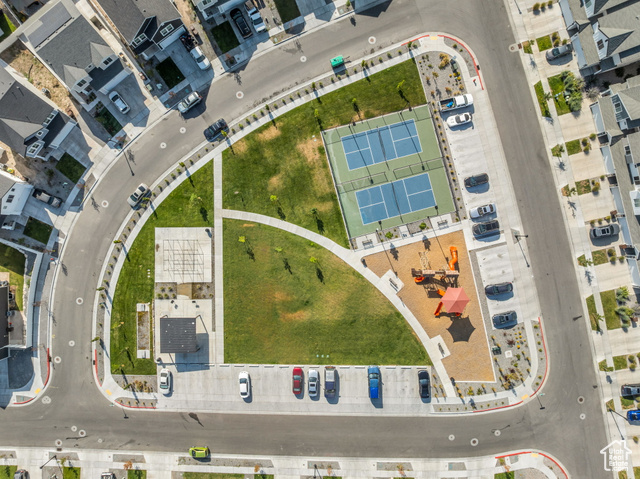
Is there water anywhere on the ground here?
No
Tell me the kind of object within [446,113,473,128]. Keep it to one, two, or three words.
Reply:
car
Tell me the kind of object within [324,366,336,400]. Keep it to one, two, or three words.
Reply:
vehicle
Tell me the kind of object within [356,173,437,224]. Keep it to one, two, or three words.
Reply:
sports court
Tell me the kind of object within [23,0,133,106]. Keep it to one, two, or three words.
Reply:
house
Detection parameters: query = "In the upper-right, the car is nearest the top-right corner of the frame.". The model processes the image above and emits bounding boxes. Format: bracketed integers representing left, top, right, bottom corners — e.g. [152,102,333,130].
[545,43,574,60]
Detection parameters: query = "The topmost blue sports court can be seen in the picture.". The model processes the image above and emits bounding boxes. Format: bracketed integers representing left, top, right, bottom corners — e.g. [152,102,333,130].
[341,119,422,171]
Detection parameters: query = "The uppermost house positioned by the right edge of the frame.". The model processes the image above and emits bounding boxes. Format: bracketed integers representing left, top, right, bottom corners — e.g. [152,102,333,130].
[561,0,640,79]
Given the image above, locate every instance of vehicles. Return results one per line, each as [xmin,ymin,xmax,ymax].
[324,366,336,400]
[463,173,490,188]
[158,368,171,395]
[242,2,269,37]
[101,472,114,479]
[418,370,430,398]
[438,94,473,113]
[367,366,379,400]
[307,369,319,396]
[230,8,253,39]
[484,282,513,295]
[446,113,473,128]
[184,40,214,73]
[491,311,518,326]
[29,186,64,208]
[621,384,640,396]
[472,221,501,234]
[127,183,150,208]
[626,410,640,421]
[469,204,497,218]
[14,469,28,479]
[238,371,250,398]
[589,224,619,238]
[545,43,574,60]
[291,368,303,395]
[202,120,229,139]
[190,446,211,459]
[178,91,204,112]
